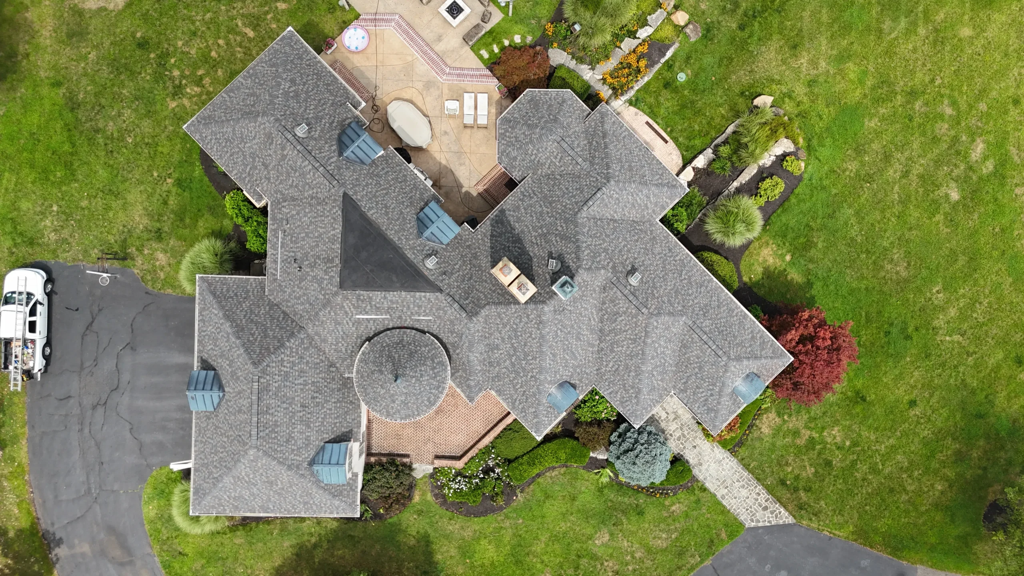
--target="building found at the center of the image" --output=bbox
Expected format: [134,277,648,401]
[181,24,796,519]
